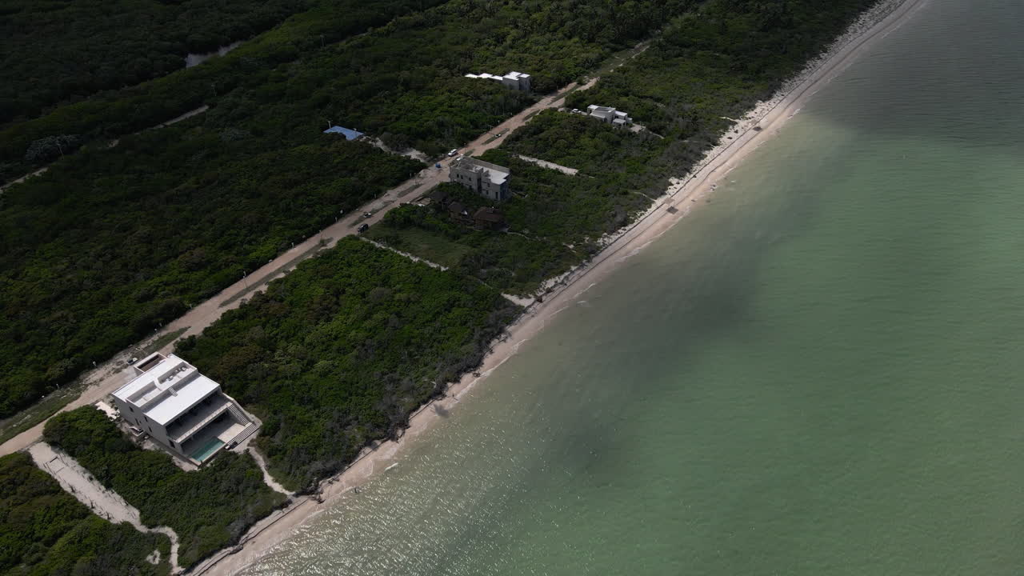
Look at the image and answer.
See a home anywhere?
Yes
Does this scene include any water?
Yes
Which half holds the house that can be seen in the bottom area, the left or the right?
left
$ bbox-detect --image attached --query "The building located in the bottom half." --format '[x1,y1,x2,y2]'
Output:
[117,354,265,466]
